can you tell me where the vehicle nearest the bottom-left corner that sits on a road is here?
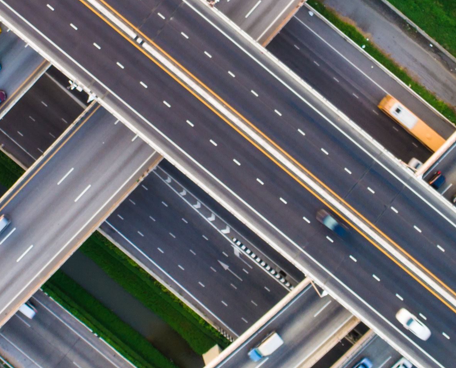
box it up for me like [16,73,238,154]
[17,301,40,323]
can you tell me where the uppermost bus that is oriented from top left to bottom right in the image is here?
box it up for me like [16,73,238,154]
[377,94,448,156]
